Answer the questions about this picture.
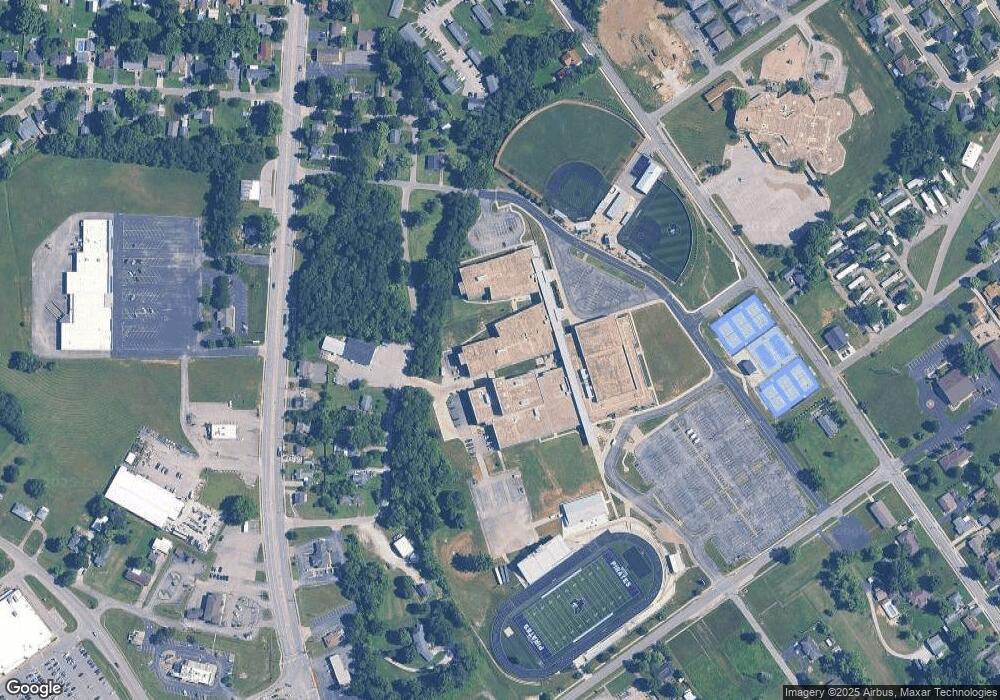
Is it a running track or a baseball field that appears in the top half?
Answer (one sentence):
You can see a baseball field in the top half.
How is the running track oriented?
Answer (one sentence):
In this picture, the running track is oriented at an angle.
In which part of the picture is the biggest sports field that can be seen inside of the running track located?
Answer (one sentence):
Look in the bottom portion of the view to spot the biggest sports field that can be seen inside of the running track.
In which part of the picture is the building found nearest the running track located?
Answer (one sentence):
The building found nearest the running track appears toward the bottom of the photo.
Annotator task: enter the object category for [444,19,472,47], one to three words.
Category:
building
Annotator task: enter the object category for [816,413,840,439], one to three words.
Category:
shed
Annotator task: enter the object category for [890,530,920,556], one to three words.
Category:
house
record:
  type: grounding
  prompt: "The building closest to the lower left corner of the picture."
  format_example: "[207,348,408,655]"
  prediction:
[0,590,55,674]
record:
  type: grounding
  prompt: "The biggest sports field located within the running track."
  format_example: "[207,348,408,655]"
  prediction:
[516,551,641,662]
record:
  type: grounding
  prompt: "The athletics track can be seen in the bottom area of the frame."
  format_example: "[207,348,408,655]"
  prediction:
[489,529,665,680]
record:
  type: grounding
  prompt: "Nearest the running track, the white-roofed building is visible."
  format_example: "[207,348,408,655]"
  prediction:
[562,492,609,530]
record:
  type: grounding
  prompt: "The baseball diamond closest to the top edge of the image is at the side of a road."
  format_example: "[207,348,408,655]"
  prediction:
[494,101,645,223]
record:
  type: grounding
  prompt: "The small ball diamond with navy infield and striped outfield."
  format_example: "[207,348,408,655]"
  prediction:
[617,181,692,282]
